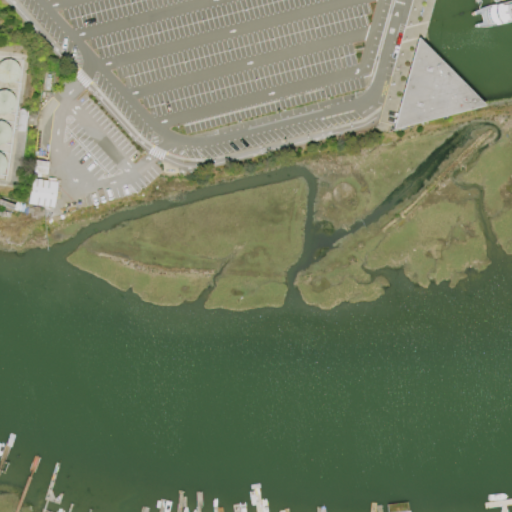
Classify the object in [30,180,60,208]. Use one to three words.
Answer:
building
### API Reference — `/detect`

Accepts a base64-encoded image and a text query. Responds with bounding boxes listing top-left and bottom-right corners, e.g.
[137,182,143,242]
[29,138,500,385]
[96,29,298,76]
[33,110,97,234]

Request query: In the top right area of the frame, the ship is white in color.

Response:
[472,4,512,32]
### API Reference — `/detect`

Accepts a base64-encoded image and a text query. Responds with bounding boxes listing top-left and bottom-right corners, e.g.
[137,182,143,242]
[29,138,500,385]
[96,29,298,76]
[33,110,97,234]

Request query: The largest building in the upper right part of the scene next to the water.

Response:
[394,36,488,128]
